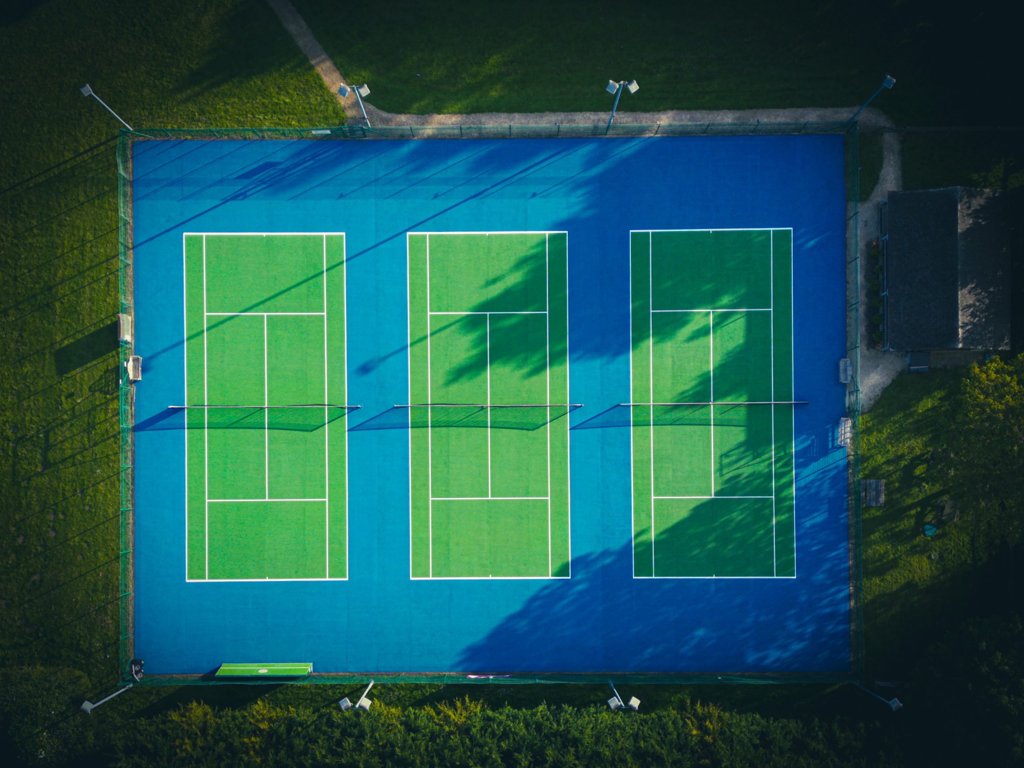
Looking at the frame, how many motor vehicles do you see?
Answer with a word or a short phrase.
0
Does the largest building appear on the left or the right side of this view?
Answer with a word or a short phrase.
right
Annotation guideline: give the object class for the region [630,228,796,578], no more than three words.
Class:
tennis court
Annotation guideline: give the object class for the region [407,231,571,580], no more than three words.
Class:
tennis court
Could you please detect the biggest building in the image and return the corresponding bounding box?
[879,186,1012,355]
